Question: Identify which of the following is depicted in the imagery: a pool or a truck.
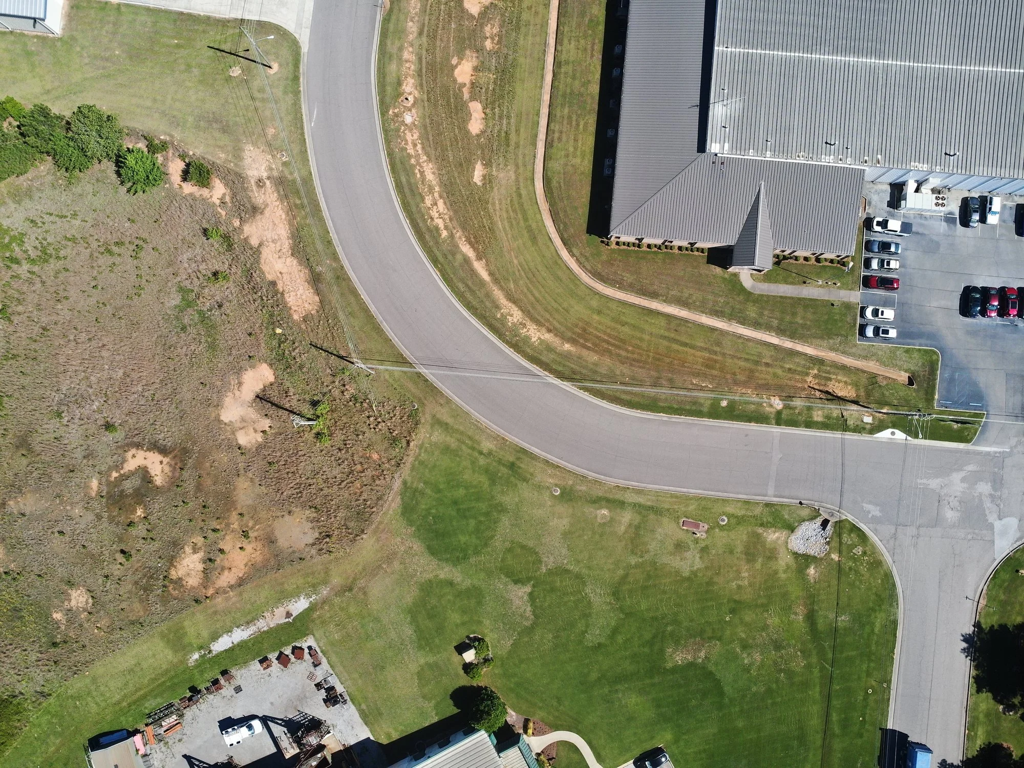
truck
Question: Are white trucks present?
Yes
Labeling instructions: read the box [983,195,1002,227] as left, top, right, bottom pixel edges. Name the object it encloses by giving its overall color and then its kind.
white car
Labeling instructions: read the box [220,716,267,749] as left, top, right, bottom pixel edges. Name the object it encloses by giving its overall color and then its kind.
white truck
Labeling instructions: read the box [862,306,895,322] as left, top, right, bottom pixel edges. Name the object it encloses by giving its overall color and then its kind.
white car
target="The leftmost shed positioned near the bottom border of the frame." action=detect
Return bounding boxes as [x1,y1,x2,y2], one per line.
[90,729,156,768]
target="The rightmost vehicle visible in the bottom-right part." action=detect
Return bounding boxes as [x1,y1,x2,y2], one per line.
[901,736,931,768]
